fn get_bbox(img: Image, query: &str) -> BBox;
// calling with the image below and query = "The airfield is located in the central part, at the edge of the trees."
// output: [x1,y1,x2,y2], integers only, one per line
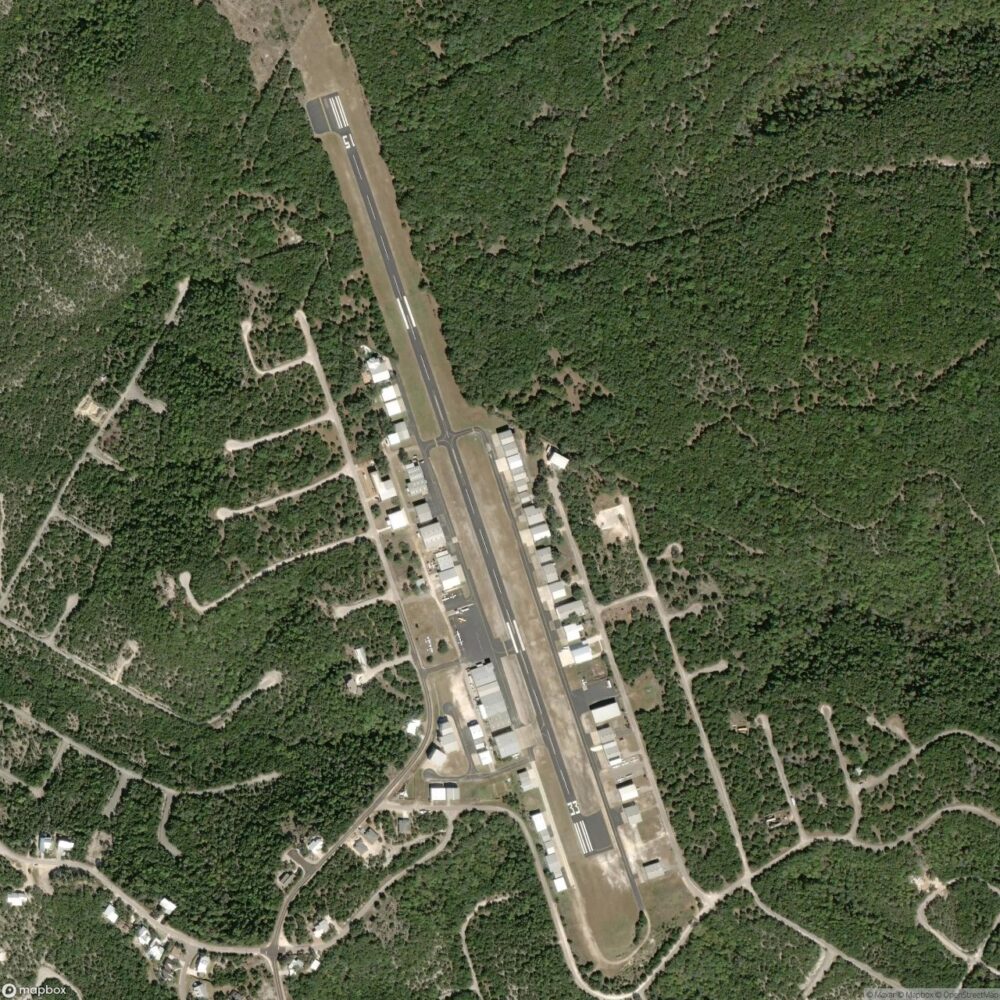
[291,6,697,978]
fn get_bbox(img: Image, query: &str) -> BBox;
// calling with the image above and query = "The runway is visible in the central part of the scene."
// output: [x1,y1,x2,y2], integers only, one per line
[331,94,593,854]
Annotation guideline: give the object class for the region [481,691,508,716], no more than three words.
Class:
hangar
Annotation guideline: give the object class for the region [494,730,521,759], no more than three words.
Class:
hangar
